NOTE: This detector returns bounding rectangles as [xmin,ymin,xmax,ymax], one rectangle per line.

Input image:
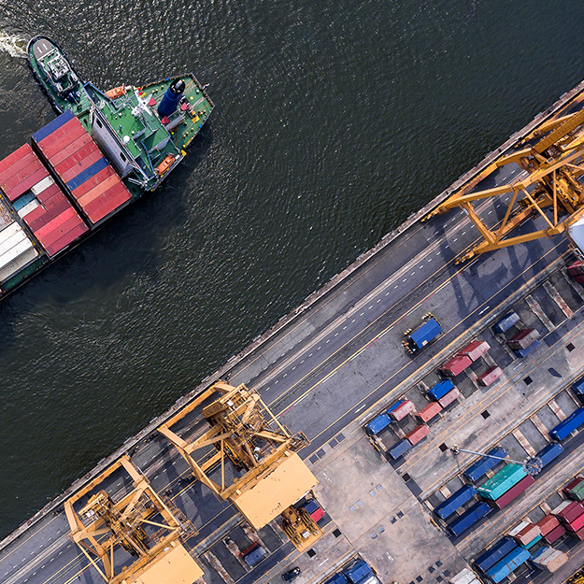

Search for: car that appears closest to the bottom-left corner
[283,567,299,580]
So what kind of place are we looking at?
port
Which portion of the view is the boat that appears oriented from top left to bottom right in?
top left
